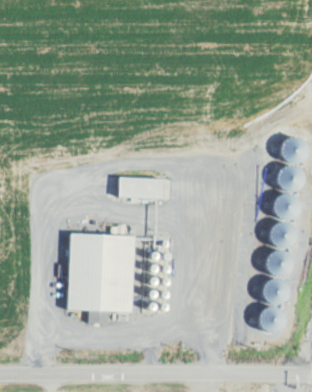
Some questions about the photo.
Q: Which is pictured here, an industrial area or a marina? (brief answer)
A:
industrial area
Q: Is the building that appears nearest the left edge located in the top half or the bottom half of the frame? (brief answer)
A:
bottom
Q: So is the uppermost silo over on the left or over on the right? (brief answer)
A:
right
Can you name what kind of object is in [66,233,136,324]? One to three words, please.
building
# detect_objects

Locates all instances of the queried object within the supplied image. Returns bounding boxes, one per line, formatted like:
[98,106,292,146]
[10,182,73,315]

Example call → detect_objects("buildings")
[118,177,170,200]
[66,233,136,324]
